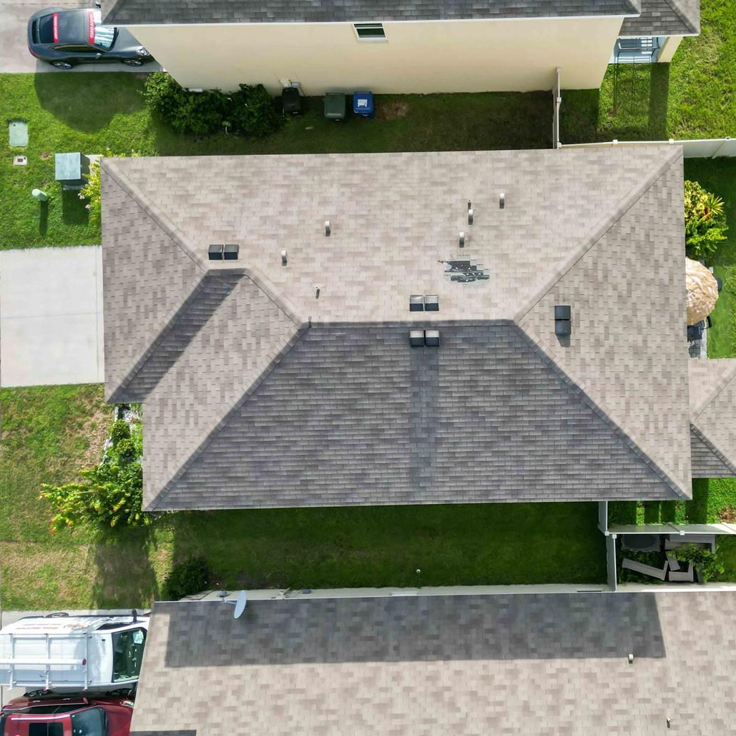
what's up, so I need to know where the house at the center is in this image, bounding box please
[101,142,736,514]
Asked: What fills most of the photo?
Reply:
buildings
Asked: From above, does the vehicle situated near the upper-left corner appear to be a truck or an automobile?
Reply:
automobile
